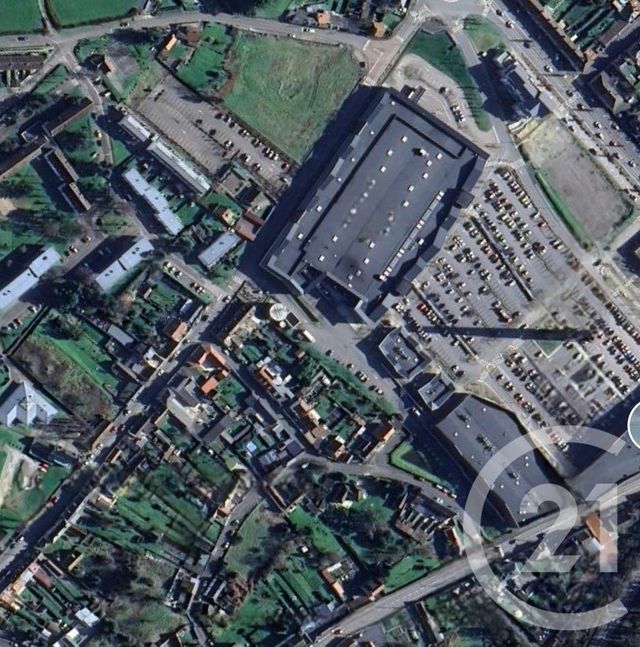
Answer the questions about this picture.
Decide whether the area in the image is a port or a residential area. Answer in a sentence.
What you see here is a residential area.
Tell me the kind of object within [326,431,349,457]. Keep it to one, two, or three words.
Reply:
house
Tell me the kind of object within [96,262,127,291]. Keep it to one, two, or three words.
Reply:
building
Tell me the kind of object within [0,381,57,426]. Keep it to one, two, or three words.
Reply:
house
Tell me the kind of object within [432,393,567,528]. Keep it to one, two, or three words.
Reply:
building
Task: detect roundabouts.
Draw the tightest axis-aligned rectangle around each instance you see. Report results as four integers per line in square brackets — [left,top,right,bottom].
[423,0,479,23]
